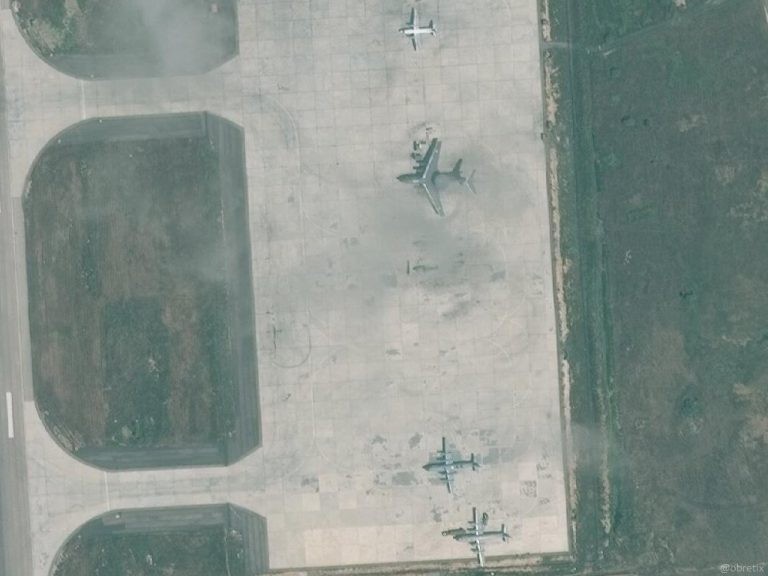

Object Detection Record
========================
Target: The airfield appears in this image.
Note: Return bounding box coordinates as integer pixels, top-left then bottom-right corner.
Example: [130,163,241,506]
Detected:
[0,0,568,576]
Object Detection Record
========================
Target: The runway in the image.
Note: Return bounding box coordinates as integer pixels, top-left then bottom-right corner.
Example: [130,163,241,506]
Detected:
[0,0,30,576]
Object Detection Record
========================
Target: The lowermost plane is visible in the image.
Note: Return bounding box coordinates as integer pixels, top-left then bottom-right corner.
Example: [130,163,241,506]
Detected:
[454,508,510,564]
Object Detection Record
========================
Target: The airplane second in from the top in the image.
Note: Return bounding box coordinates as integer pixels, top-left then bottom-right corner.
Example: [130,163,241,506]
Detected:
[398,140,474,215]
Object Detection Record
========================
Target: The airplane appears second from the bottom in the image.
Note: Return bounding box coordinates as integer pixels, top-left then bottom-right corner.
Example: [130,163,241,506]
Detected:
[424,438,479,494]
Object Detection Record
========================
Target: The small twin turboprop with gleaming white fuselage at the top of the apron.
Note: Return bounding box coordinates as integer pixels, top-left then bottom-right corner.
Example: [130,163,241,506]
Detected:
[400,9,438,52]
